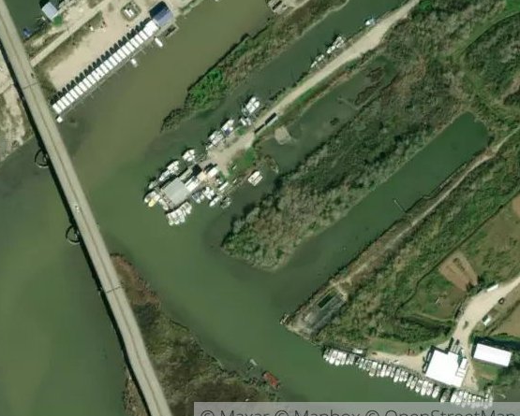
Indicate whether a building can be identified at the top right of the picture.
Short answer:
No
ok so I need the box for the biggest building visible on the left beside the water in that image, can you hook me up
[160,177,191,206]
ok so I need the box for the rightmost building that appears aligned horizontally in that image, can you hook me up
[473,345,511,368]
